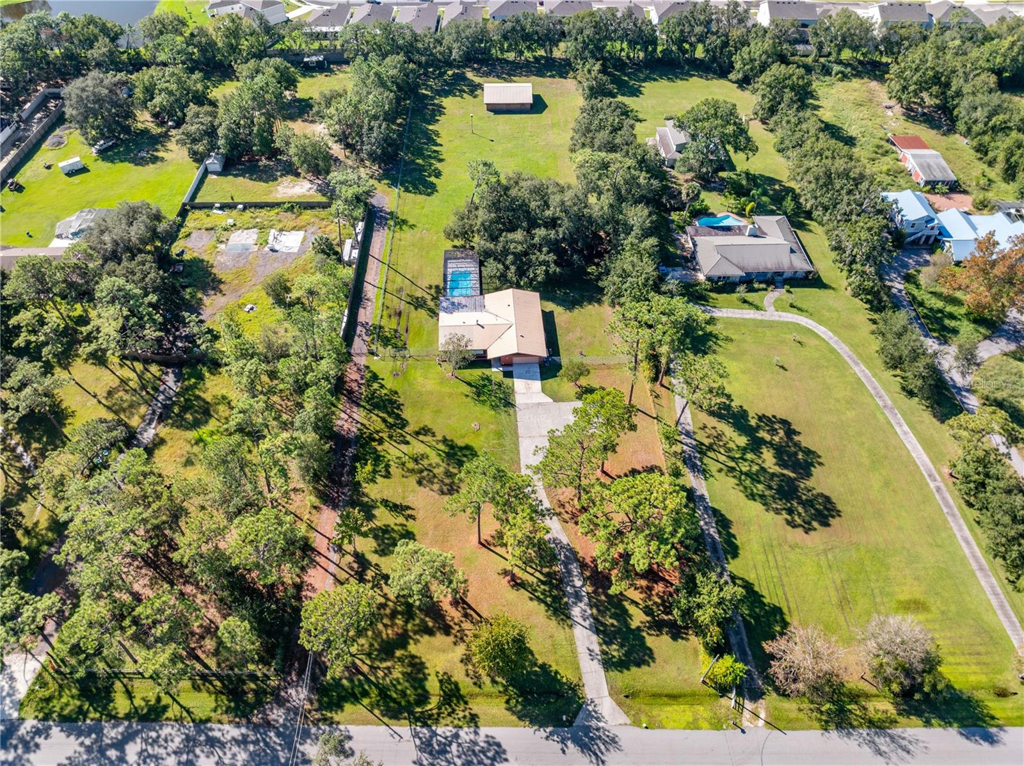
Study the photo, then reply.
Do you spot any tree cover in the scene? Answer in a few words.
Yes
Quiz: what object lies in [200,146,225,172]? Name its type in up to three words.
shed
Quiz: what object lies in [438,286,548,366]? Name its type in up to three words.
house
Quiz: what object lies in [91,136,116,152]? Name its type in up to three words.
vehicle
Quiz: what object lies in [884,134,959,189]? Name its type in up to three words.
barn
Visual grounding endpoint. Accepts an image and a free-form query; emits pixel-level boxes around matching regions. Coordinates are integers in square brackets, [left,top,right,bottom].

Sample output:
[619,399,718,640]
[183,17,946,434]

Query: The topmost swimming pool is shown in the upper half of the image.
[687,209,748,225]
